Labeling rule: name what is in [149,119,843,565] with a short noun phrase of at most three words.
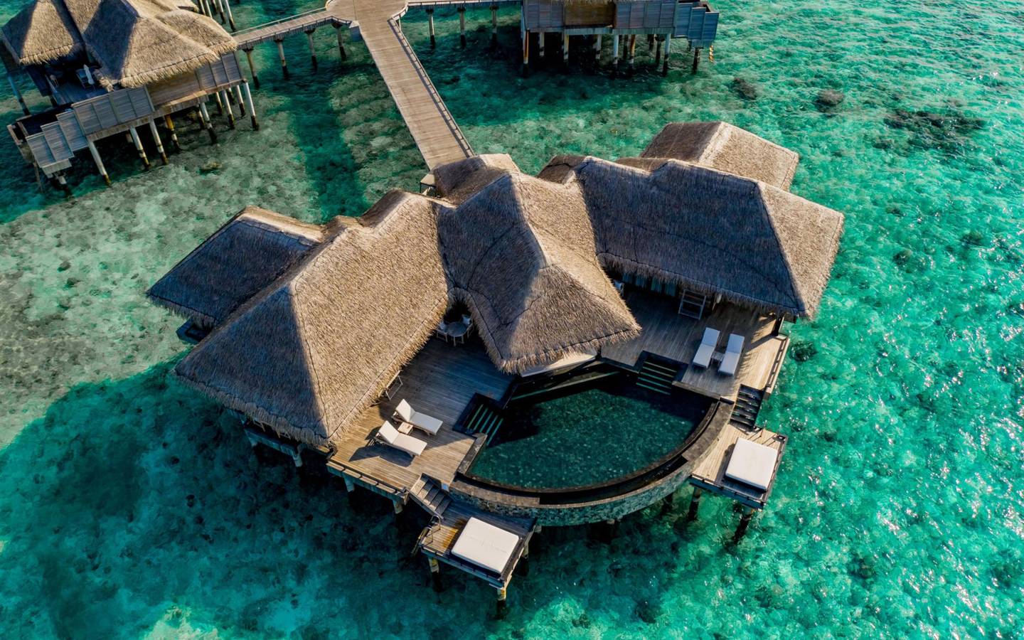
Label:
house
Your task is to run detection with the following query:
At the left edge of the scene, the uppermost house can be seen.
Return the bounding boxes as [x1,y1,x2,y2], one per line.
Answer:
[0,0,250,200]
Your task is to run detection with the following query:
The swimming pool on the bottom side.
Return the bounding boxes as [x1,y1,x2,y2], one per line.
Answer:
[443,344,741,558]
